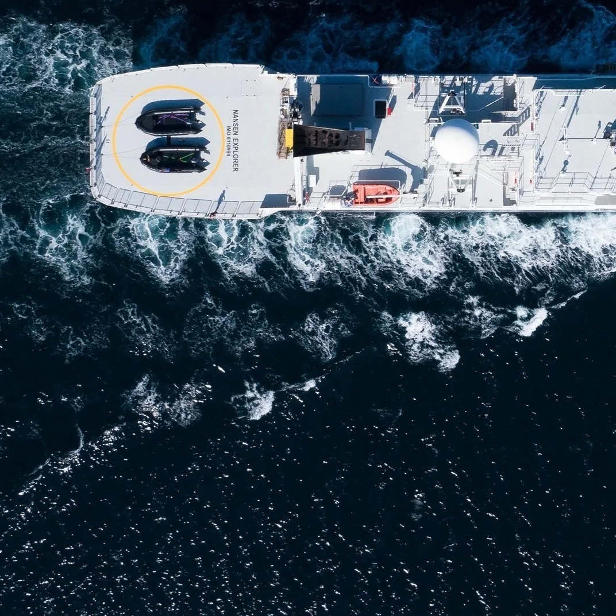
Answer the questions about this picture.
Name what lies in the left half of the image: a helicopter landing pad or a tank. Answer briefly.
helicopter landing pad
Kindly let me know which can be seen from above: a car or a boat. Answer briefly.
boat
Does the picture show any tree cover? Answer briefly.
No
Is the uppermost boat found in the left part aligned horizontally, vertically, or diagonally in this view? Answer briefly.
horizontally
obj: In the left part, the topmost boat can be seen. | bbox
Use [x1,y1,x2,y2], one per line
[134,109,206,136]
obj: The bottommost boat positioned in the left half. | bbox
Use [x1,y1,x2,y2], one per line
[140,146,210,174]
